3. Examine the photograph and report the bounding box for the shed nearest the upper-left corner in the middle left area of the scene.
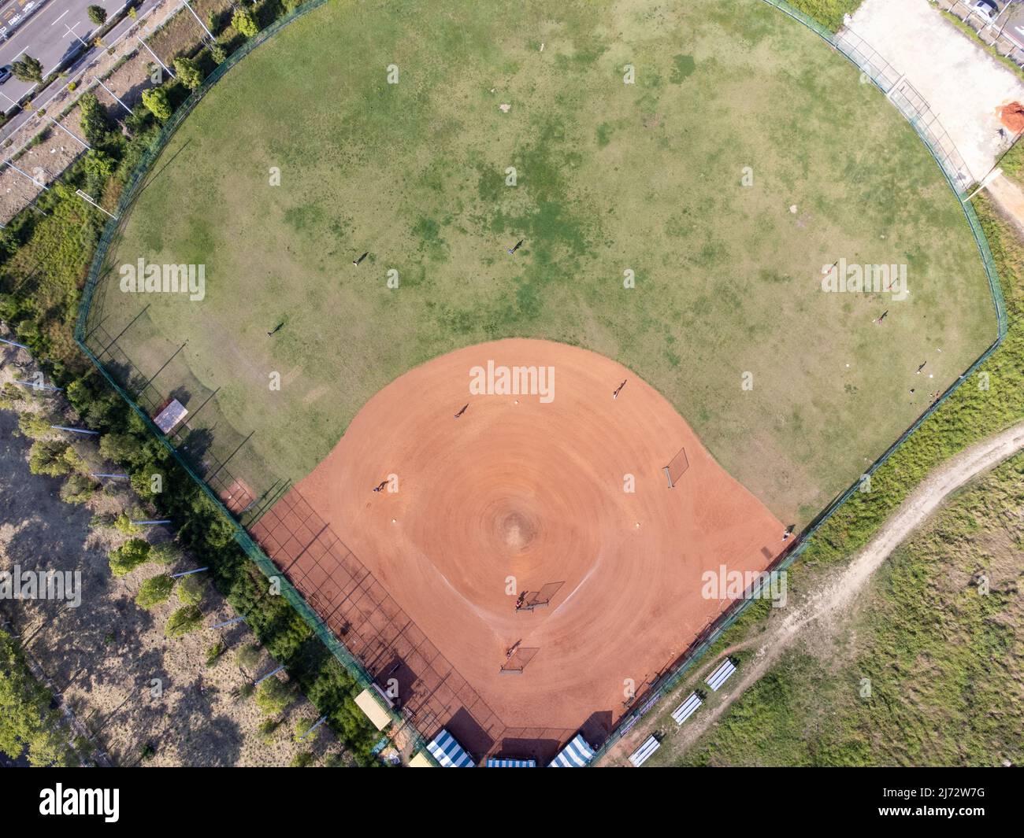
[154,399,188,433]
